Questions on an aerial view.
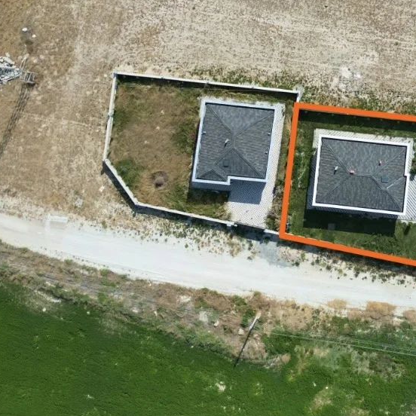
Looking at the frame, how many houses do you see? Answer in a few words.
2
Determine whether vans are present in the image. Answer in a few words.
No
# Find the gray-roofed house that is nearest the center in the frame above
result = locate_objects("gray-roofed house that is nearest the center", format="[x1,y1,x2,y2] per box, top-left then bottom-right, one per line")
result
[192,100,277,185]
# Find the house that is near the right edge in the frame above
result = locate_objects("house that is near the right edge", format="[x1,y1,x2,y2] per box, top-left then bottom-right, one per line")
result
[312,134,410,216]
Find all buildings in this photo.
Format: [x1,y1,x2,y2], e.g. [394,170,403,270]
[312,134,410,216]
[192,100,277,185]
